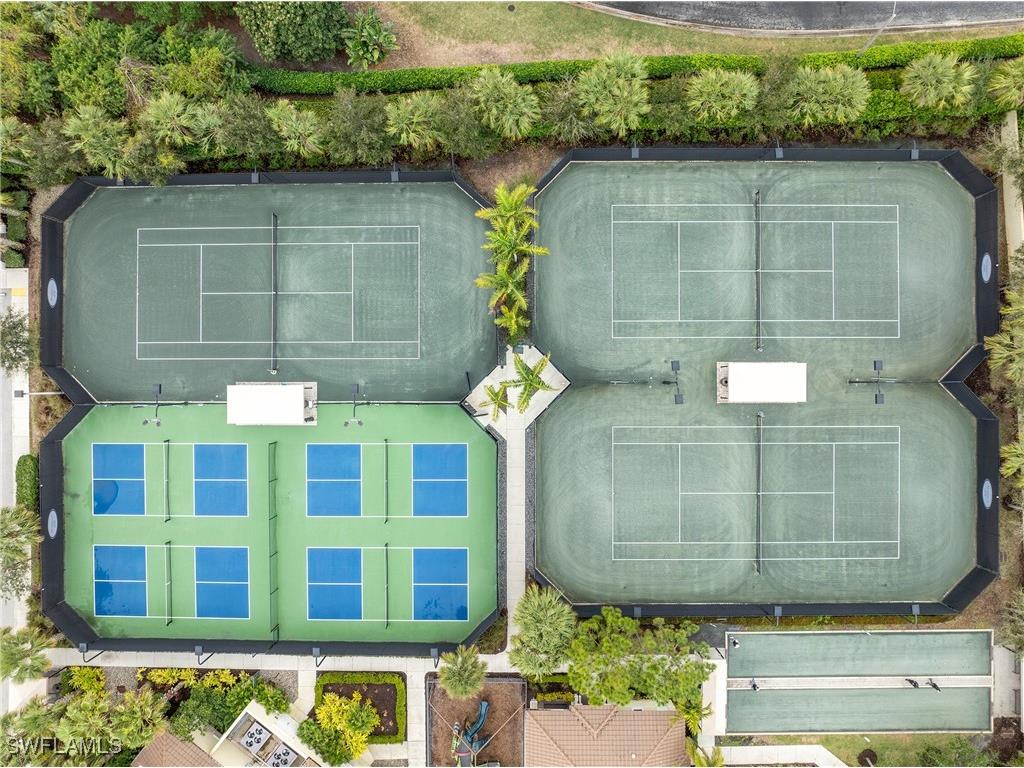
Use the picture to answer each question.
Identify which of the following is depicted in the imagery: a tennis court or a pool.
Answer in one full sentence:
I can see a tennis court in this picture.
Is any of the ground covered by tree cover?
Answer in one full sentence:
Yes, the picture does contain tree cover.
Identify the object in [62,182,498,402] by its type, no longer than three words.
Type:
tennis court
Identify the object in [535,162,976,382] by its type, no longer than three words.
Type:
tennis court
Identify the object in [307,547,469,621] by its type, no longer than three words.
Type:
sports court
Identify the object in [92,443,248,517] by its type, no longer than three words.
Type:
sports court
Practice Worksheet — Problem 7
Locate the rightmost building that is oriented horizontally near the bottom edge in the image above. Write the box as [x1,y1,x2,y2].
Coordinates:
[526,689,690,768]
